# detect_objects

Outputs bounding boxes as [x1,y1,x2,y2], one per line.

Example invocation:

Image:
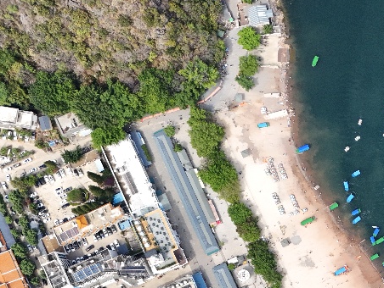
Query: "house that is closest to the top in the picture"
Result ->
[238,3,275,26]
